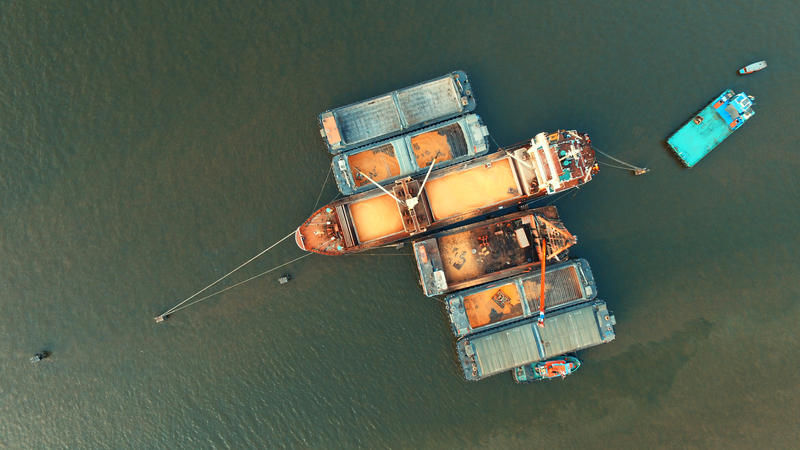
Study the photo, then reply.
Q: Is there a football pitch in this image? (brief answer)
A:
No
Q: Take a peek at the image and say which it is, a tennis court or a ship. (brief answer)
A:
ship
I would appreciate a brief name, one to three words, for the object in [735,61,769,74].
boat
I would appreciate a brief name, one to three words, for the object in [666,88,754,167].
ship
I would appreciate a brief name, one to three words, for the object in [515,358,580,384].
boat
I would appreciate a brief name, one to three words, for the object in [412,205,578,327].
ship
